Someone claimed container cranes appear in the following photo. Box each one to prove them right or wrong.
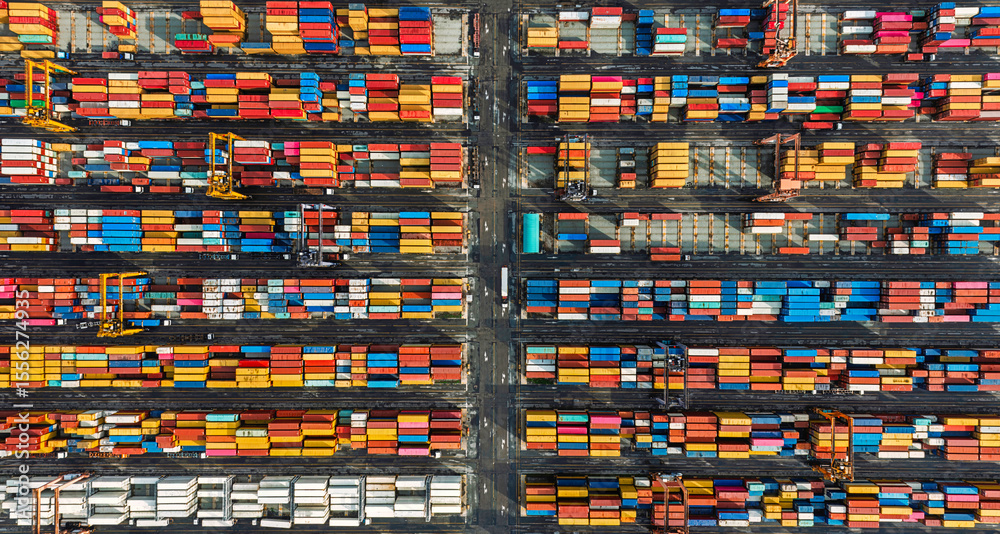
[754,133,801,205]
[753,0,797,66]
[24,57,81,135]
[297,203,338,269]
[33,474,92,534]
[558,132,591,203]
[649,340,688,415]
[806,407,854,485]
[649,473,688,534]
[205,132,253,202]
[99,271,151,339]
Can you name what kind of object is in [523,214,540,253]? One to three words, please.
shed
